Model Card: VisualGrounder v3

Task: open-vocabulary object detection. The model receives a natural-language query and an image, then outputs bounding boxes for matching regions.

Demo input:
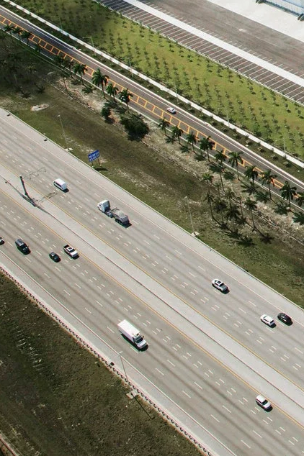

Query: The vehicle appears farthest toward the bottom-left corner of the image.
[116,319,146,349]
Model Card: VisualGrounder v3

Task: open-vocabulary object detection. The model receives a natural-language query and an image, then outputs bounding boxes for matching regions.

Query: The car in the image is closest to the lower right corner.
[253,395,273,412]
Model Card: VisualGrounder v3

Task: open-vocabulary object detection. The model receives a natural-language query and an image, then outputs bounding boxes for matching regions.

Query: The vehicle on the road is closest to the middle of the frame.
[96,198,131,225]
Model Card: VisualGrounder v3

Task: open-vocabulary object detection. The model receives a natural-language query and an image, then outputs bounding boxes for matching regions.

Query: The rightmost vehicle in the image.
[276,314,294,327]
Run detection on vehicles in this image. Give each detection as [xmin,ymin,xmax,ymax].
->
[276,314,294,327]
[253,395,273,412]
[46,252,60,263]
[211,281,227,294]
[96,198,131,225]
[14,241,29,254]
[165,107,176,115]
[60,245,78,259]
[259,316,276,330]
[52,180,67,191]
[116,319,146,349]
